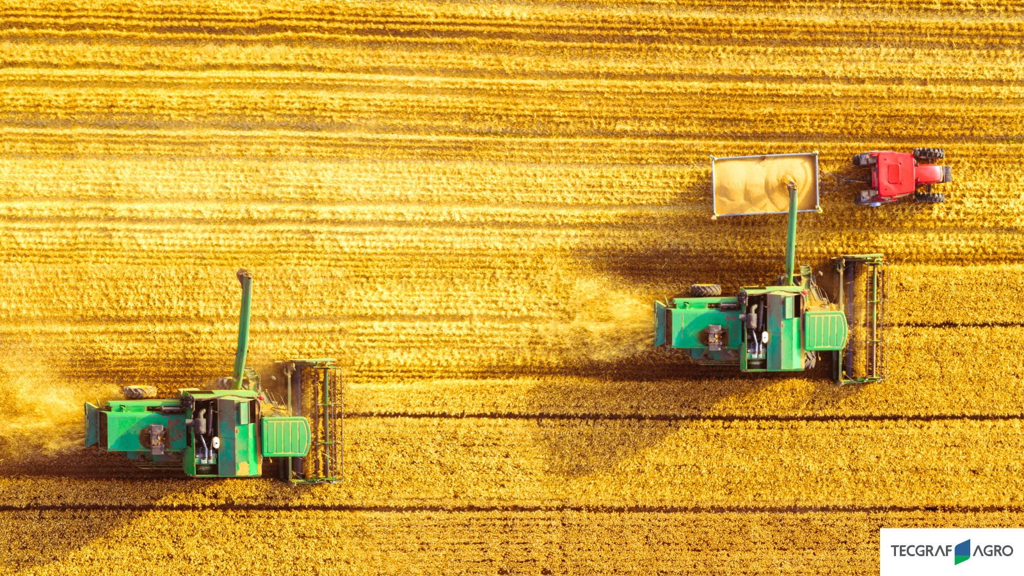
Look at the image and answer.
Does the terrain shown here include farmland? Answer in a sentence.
Yes, farmland can be seen from above here.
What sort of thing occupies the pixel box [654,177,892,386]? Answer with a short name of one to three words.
work vehicle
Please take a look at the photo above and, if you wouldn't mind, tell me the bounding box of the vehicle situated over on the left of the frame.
[83,268,346,487]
